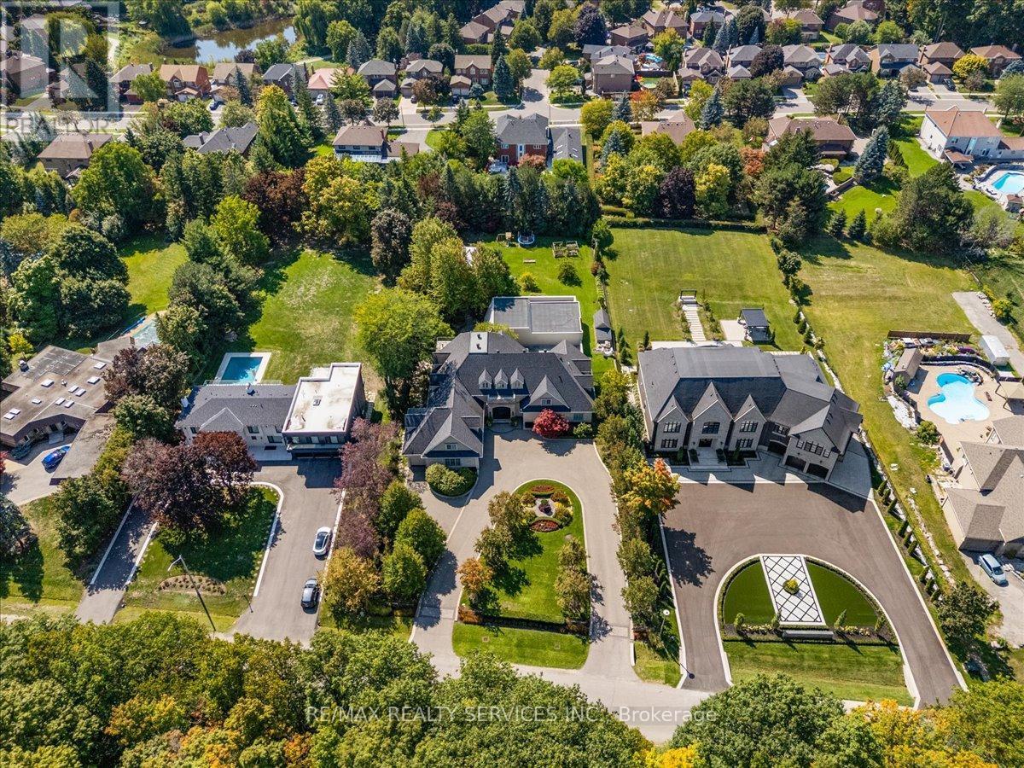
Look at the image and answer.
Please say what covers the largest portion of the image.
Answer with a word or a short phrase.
trees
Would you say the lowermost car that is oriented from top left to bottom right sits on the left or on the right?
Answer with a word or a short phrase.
right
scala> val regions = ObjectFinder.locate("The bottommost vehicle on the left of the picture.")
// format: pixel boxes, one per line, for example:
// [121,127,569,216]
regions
[296,574,320,609]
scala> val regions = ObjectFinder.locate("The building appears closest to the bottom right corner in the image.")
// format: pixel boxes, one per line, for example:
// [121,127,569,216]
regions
[937,413,1024,574]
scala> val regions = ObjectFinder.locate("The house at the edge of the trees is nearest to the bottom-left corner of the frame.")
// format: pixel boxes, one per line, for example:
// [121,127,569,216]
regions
[0,335,138,494]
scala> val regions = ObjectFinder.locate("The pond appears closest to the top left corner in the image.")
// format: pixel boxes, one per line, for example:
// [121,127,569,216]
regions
[161,20,296,61]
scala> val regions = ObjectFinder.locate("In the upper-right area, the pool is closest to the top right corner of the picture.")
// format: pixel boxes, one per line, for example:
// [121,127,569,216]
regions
[992,172,1024,195]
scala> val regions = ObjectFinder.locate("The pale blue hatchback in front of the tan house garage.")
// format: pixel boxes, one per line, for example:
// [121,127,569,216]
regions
[977,550,1010,584]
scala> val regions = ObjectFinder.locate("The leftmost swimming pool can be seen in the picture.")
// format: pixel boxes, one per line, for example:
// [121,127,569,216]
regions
[129,309,161,346]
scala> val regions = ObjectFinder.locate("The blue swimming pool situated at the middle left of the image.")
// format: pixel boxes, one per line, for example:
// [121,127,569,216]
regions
[219,355,264,380]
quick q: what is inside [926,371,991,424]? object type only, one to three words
swimming pool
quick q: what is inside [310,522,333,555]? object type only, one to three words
car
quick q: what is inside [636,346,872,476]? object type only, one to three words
house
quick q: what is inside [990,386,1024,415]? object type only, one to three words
gazebo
